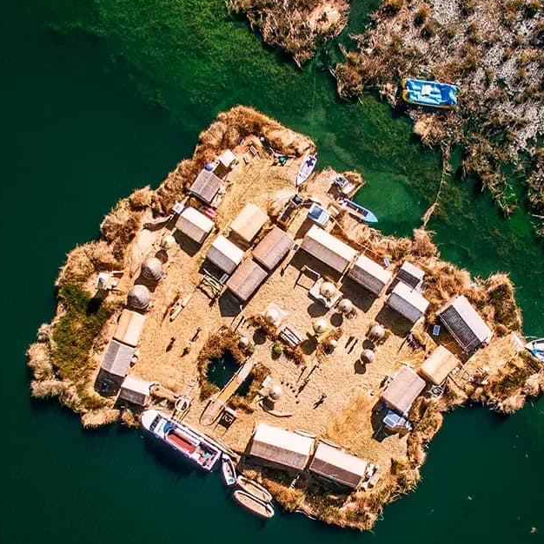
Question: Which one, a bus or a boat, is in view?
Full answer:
The one in the frame is a boat.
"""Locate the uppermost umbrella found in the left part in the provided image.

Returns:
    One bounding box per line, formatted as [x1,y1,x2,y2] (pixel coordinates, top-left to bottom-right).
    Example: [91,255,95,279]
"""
[163,235,175,248]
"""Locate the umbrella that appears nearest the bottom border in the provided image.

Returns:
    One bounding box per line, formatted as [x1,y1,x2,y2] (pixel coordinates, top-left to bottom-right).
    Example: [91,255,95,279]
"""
[270,384,283,398]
